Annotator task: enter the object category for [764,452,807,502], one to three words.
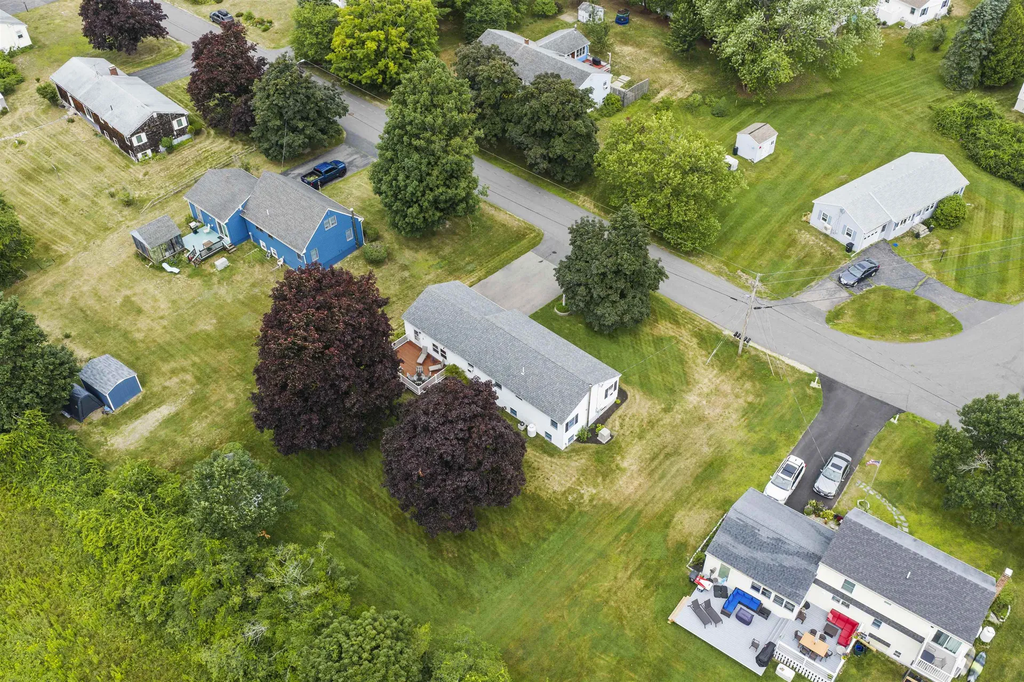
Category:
car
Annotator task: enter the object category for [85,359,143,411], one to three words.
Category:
shed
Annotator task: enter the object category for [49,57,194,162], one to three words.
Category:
house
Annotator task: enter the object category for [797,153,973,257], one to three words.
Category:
house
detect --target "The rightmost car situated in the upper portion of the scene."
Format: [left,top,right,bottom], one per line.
[838,258,882,286]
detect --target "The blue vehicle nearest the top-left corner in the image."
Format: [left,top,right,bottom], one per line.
[299,160,347,187]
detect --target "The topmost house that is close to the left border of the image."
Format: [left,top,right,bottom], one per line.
[0,4,33,54]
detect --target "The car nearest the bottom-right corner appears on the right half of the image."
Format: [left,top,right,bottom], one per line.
[815,449,856,499]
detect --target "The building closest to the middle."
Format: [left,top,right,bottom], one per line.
[374,279,624,450]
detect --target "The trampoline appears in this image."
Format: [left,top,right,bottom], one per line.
[612,4,634,27]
